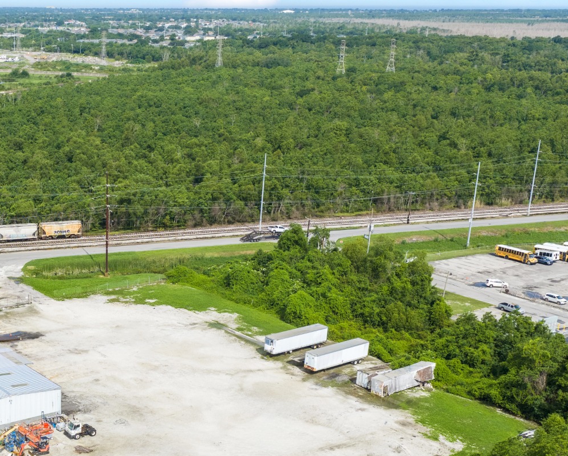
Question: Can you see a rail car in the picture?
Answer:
Yes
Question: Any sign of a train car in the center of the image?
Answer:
No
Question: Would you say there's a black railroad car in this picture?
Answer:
No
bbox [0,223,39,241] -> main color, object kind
white rail car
